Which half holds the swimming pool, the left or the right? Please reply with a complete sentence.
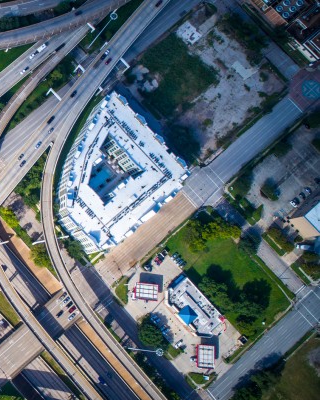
The swimming pool sits on the left side.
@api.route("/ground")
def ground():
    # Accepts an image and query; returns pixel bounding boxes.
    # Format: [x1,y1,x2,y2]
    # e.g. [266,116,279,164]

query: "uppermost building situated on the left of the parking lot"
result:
[62,92,189,252]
